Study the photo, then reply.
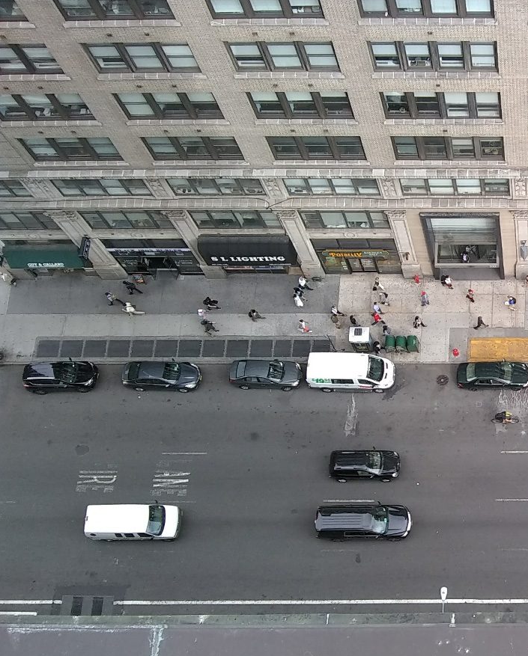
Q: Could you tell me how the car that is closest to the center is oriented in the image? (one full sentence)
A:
The car that is closest to the center is oriented horizontally.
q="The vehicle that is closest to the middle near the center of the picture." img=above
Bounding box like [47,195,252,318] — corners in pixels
[228,355,304,391]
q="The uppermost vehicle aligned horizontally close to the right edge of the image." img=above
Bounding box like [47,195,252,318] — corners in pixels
[457,355,528,389]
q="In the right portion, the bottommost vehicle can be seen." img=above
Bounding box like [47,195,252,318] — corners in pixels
[314,498,413,540]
